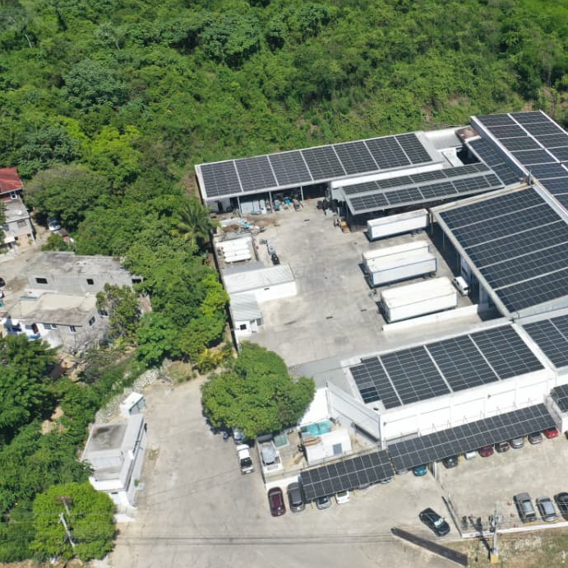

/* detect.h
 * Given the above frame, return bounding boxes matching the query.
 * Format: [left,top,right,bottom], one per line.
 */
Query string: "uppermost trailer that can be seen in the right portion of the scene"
[367,209,430,243]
